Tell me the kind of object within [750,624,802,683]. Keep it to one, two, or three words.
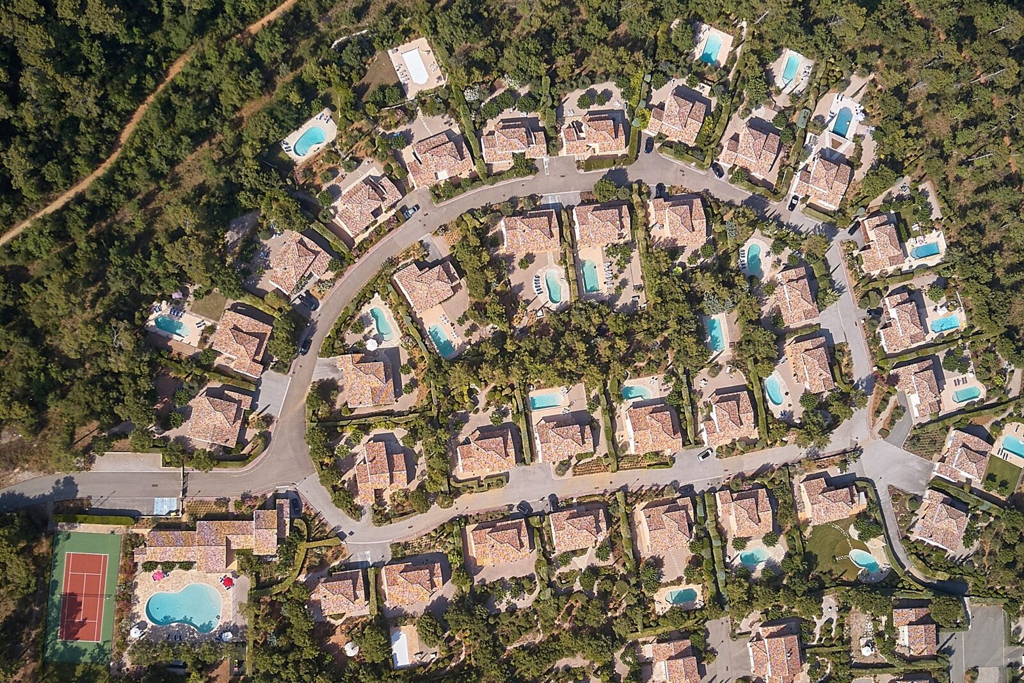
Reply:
house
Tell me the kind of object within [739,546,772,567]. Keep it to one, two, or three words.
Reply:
swimming pool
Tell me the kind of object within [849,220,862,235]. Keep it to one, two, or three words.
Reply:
vehicle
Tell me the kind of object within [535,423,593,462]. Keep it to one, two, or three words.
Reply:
house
